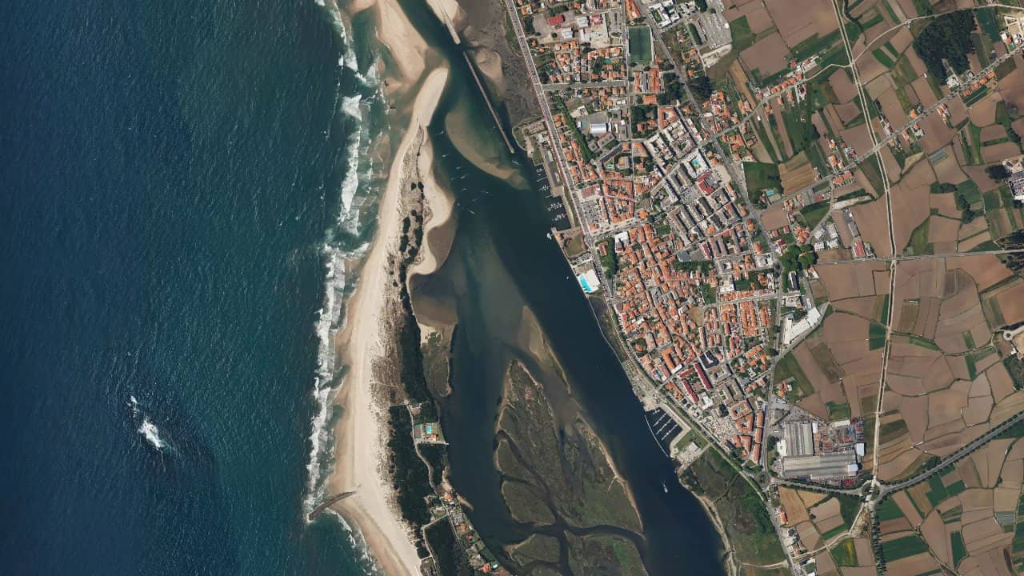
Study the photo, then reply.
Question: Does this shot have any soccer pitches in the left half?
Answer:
No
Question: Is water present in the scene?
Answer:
Yes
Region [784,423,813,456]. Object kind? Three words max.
building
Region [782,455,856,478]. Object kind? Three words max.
building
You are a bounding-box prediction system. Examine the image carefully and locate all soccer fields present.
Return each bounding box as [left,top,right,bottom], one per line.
[628,26,652,62]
